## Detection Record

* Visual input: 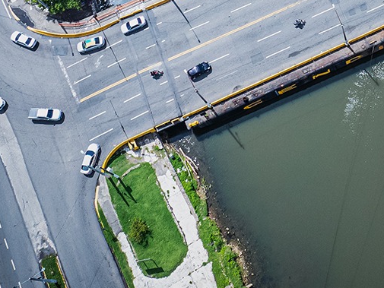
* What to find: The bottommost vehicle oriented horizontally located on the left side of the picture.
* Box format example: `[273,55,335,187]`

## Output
[23,107,64,123]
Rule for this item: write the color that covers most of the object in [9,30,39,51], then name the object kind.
white car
